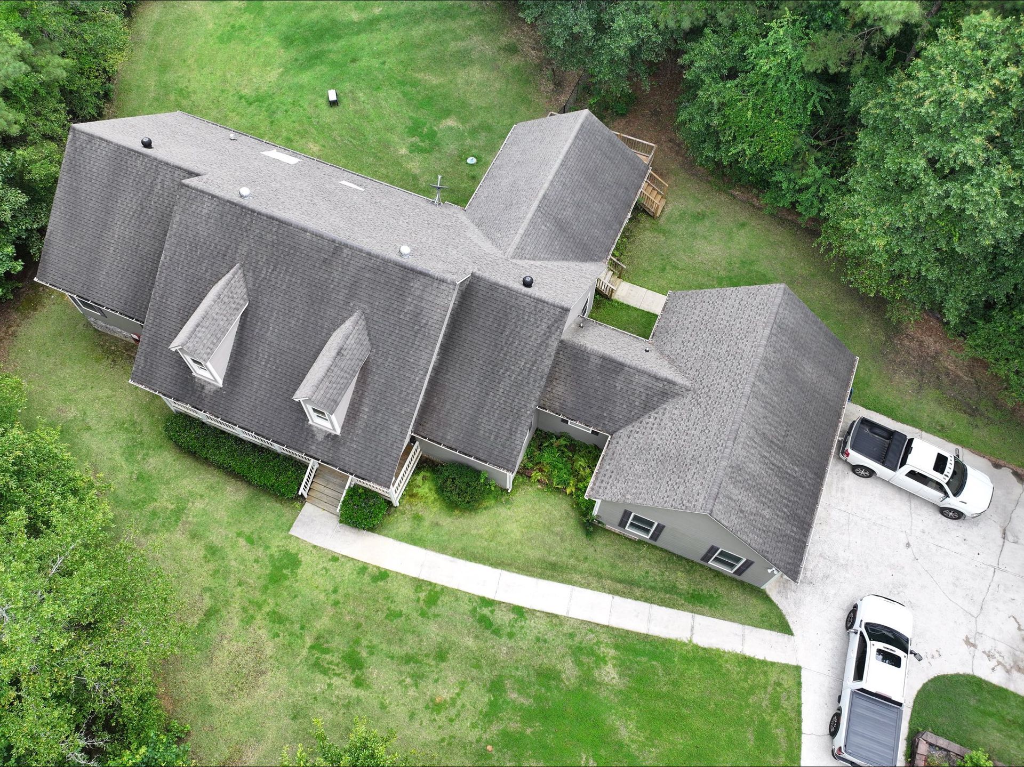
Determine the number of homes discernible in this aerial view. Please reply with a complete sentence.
The picture shows 1 home.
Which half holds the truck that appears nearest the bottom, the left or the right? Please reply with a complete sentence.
The truck that appears nearest the bottom is on the right side of the image.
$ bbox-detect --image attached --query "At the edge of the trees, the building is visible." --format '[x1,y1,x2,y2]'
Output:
[34,109,860,590]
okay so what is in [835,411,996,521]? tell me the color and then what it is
white truck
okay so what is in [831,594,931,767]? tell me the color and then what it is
white truck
